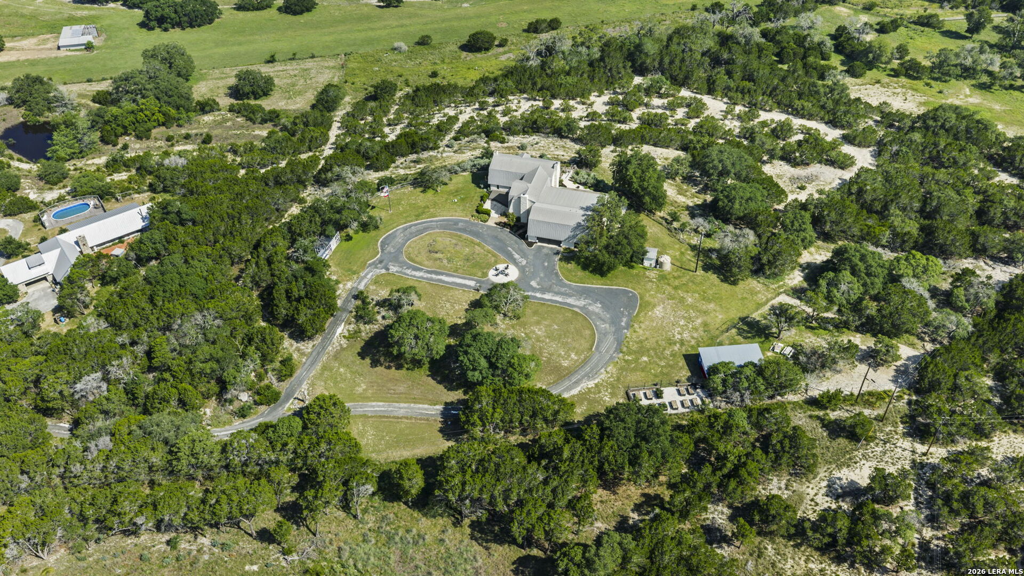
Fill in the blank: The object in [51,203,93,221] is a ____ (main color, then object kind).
blue swimming pool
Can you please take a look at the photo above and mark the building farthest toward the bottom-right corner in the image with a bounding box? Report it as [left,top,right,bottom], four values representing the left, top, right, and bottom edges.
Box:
[697,342,768,383]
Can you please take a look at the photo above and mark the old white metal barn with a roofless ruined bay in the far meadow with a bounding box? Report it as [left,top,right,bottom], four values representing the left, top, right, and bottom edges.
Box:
[58,24,101,50]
